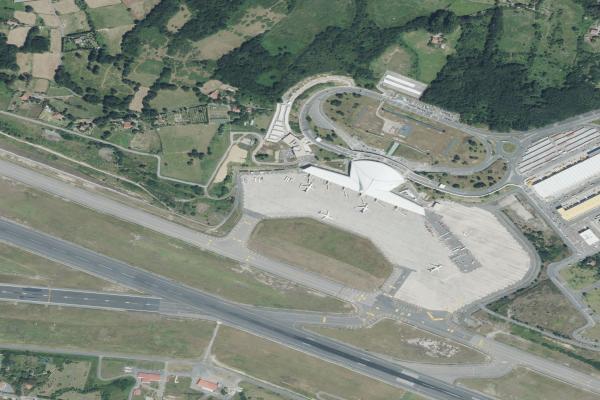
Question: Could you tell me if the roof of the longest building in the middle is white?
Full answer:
Yes, the roof of the longest building in the middle appears white.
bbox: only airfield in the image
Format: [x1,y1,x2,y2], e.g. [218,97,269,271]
[0,159,600,400]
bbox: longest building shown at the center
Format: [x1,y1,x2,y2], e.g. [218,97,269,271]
[303,159,425,216]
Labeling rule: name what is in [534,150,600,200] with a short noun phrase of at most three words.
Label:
hangar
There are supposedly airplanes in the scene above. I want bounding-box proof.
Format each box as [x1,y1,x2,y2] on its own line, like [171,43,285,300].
[360,204,369,214]
[304,183,313,193]
[321,210,333,221]
[431,264,442,275]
